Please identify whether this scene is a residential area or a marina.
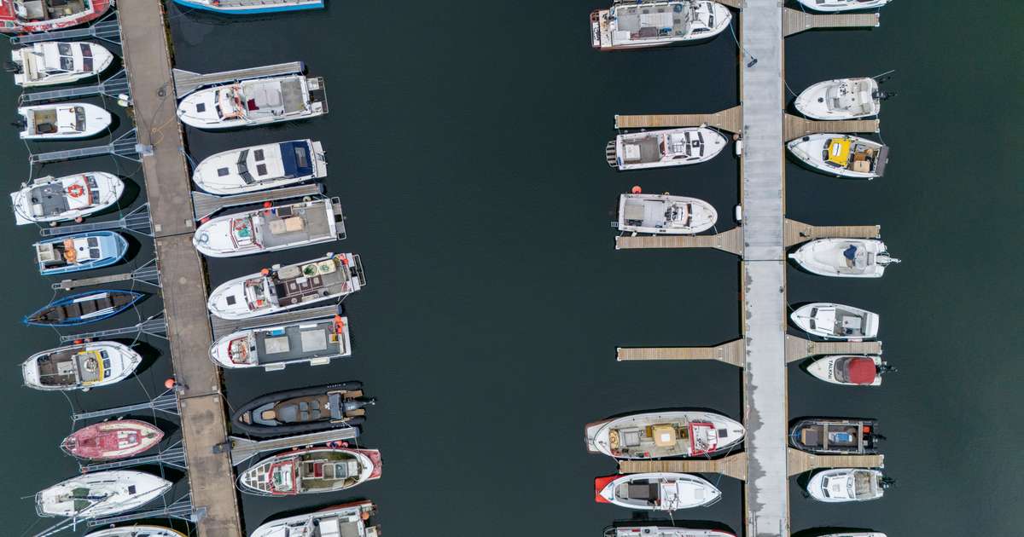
marina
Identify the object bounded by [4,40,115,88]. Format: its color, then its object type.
white boat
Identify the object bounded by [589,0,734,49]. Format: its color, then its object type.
white boat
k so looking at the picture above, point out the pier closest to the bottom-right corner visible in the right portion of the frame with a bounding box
[788,443,885,482]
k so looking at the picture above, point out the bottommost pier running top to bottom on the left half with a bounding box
[176,392,242,537]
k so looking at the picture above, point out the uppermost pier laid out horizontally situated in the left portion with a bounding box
[10,10,122,44]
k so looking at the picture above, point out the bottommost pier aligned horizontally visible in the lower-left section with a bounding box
[89,494,193,528]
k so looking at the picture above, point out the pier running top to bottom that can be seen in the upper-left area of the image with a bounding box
[116,0,195,236]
